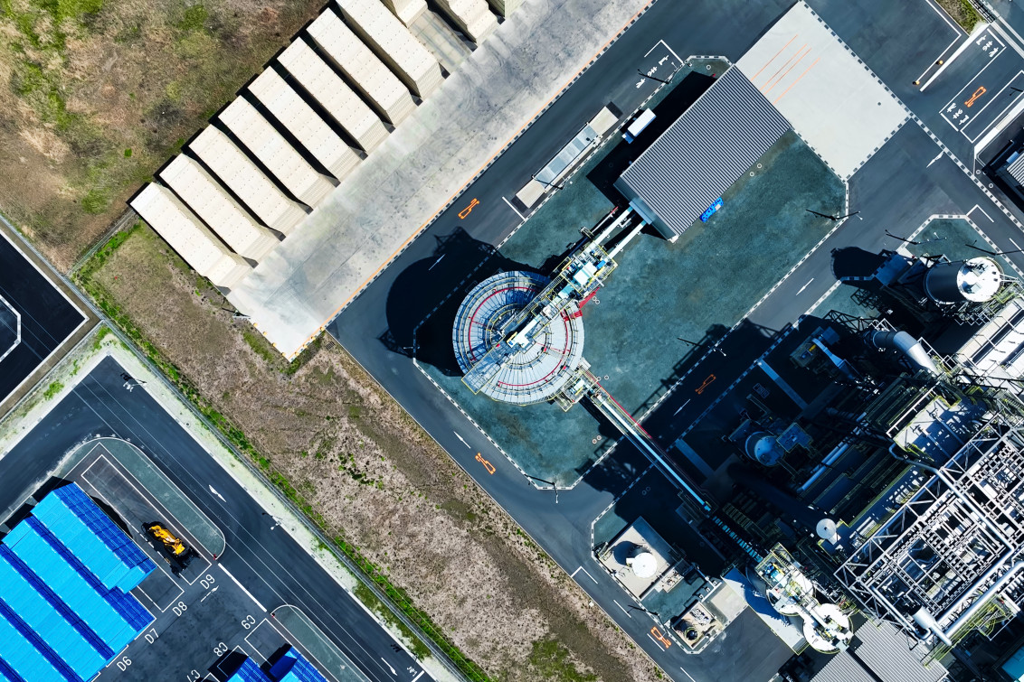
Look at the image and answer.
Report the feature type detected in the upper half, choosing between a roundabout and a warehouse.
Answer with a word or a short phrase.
warehouse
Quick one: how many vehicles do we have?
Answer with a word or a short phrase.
2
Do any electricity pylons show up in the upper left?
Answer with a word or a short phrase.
No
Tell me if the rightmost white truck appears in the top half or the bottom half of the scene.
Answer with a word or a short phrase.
top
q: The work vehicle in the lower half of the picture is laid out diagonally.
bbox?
[145,518,201,564]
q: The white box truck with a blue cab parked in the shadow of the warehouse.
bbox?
[619,107,656,146]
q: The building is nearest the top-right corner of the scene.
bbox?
[991,146,1024,205]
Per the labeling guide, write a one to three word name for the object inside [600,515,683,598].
storage tank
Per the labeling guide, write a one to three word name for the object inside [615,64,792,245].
warehouse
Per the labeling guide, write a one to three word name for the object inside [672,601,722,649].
storage tank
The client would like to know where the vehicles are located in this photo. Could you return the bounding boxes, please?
[145,518,201,564]
[619,107,656,146]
